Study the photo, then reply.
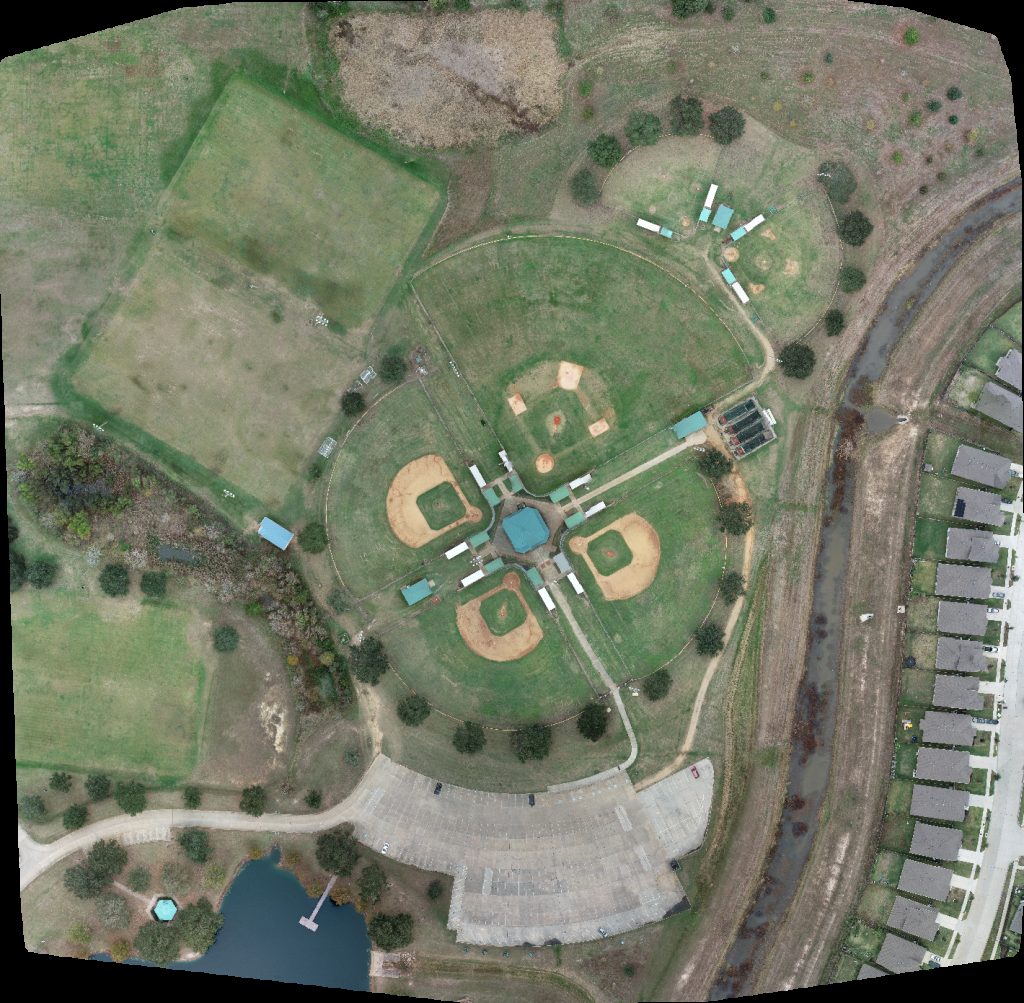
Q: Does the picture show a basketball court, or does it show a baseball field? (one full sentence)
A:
The one in the frame is a baseball field.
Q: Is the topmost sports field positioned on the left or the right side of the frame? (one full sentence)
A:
The topmost sports field is on the left side of the image.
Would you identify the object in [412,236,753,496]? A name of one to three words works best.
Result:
baseball field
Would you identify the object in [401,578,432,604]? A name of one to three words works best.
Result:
building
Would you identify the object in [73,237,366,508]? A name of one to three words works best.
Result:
sports field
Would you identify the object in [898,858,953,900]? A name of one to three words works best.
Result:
house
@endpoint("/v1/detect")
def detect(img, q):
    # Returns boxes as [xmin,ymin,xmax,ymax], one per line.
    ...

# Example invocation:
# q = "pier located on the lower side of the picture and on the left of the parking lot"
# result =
[301,876,335,933]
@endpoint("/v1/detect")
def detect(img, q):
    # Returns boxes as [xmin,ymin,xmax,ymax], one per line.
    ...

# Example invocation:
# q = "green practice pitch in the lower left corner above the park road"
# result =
[0,594,206,778]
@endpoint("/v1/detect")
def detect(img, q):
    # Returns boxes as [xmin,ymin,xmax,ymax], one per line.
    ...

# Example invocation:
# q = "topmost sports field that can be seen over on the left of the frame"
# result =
[158,79,442,335]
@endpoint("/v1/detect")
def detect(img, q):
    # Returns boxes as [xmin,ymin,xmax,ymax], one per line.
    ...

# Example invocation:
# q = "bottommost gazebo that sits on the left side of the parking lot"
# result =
[151,896,180,921]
